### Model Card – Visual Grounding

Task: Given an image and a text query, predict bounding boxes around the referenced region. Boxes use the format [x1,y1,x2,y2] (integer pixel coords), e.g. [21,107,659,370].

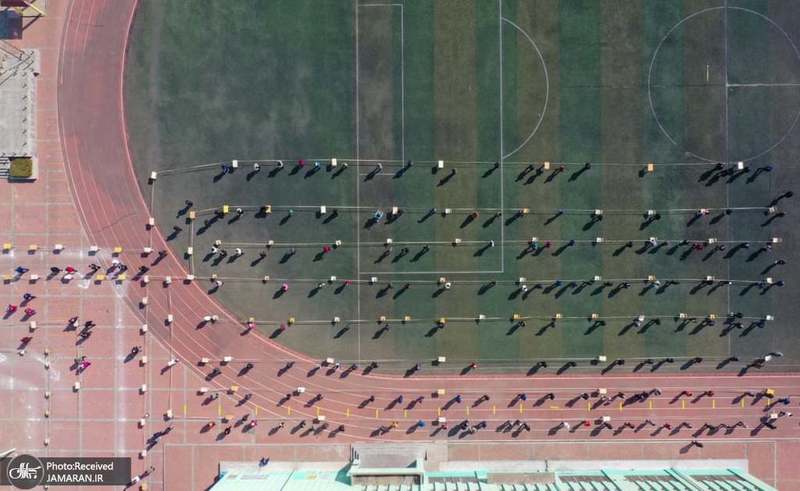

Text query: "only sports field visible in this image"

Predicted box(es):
[122,0,800,377]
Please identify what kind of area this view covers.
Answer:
sports ground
